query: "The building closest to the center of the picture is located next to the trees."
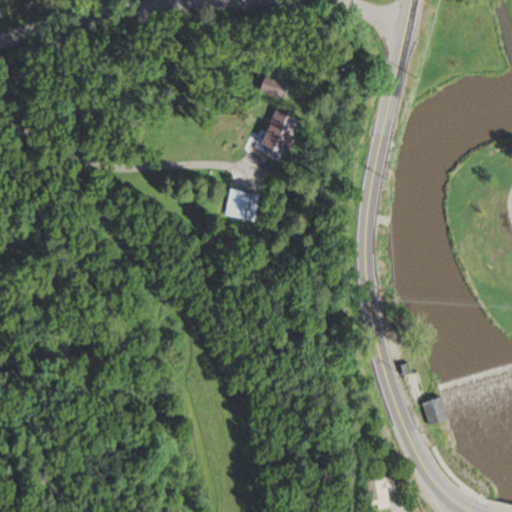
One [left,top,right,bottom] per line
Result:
[224,188,260,222]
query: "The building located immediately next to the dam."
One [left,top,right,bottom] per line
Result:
[423,398,448,424]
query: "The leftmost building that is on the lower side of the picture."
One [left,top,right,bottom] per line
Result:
[373,479,394,511]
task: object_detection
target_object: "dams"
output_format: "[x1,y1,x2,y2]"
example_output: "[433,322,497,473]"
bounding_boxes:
[434,362,512,394]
